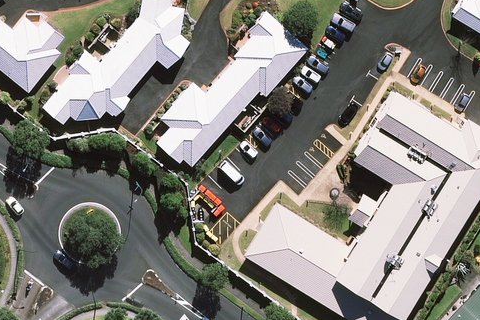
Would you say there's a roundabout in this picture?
Yes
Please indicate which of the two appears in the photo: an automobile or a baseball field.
automobile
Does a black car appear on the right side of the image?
Yes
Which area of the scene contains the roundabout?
bottom left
